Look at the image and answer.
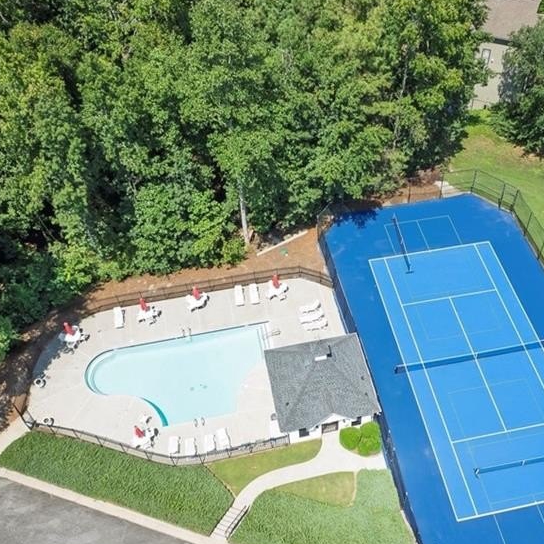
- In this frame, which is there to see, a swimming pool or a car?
swimming pool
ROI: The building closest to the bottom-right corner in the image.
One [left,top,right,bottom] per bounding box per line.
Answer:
[264,333,382,443]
